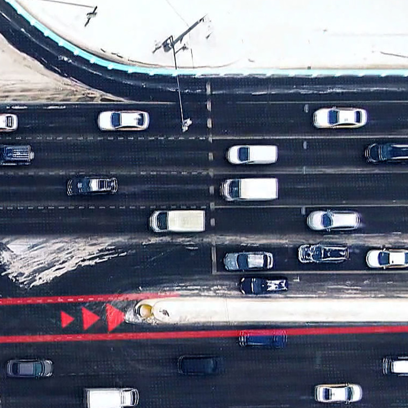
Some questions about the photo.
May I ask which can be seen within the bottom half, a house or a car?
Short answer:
car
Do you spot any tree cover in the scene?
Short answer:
No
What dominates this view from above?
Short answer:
paved ground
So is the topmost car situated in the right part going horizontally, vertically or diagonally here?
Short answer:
horizontally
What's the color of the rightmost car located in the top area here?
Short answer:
black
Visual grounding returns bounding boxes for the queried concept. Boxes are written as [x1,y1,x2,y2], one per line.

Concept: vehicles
[364,248,408,269]
[237,275,289,296]
[0,143,35,166]
[361,142,408,164]
[218,177,281,202]
[312,107,367,128]
[224,143,281,165]
[380,356,408,377]
[82,386,138,408]
[148,209,209,233]
[96,110,149,131]
[295,242,350,265]
[313,383,362,405]
[6,357,54,380]
[0,114,17,133]
[66,175,117,198]
[304,209,362,231]
[222,250,274,272]
[236,328,287,350]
